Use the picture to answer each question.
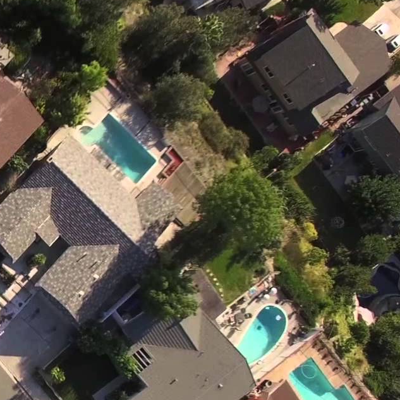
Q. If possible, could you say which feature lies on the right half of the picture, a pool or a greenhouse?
pool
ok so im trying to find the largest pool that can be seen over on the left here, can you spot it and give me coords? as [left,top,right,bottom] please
[77,110,160,186]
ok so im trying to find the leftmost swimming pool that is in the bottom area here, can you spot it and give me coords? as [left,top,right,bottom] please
[243,303,290,364]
